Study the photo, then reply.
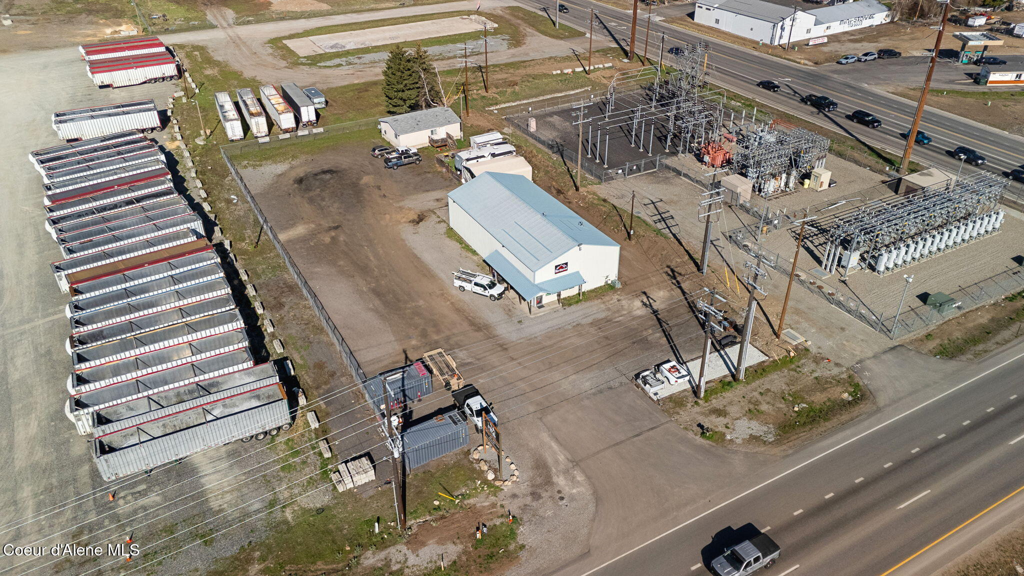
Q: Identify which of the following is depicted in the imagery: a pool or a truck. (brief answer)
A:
truck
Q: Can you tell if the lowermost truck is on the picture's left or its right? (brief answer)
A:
right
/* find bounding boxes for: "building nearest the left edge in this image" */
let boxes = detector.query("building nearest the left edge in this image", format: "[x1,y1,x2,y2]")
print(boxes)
[377,107,461,148]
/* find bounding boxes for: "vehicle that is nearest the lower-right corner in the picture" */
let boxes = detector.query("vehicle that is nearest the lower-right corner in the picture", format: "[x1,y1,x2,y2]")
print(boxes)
[709,532,792,576]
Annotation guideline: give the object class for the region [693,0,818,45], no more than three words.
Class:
building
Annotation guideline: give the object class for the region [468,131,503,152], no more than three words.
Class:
shed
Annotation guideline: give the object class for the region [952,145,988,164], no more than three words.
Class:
car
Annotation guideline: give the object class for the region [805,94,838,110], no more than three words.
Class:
vehicle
